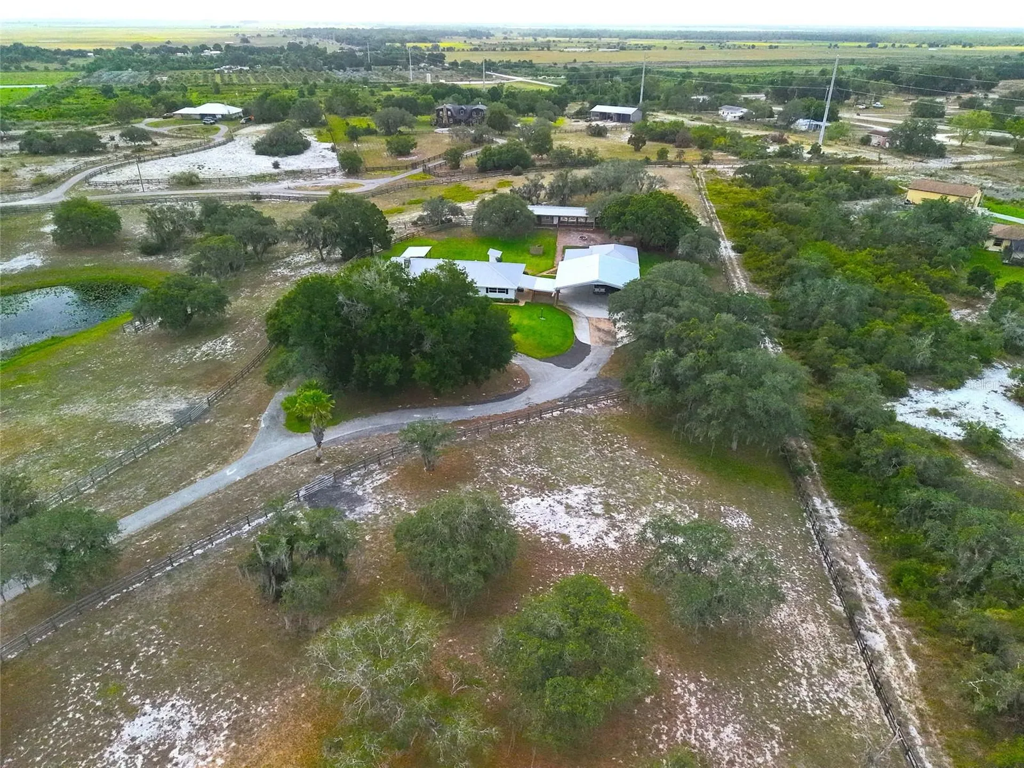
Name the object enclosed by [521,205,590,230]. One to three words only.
building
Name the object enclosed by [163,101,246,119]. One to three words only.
house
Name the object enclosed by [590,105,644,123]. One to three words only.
shed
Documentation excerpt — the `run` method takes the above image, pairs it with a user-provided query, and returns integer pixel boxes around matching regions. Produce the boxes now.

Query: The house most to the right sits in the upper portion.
[984,225,1024,256]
